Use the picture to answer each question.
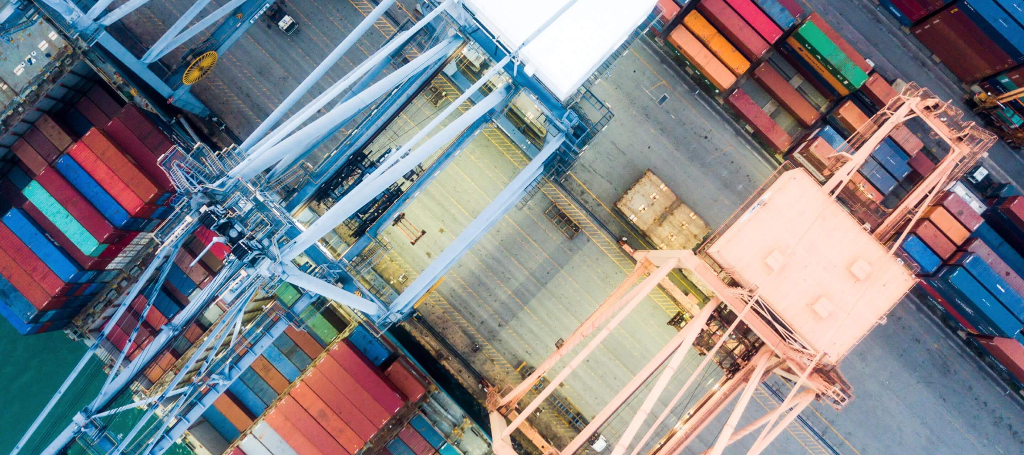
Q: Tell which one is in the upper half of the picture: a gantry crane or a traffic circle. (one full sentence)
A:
Visible in the upper half of the picture is a gantry crane.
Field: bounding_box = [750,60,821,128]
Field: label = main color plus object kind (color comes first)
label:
red shipping container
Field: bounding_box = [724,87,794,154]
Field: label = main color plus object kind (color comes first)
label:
red shipping container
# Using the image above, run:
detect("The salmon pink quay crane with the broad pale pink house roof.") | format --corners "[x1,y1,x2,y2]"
[476,69,1003,455]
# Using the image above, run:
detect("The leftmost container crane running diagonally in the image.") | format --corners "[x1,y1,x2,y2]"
[12,0,675,455]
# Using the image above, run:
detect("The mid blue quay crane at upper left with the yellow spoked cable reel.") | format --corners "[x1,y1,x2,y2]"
[0,0,292,128]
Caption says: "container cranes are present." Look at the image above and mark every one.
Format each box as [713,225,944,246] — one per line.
[476,69,1003,455]
[0,0,292,128]
[12,0,675,455]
